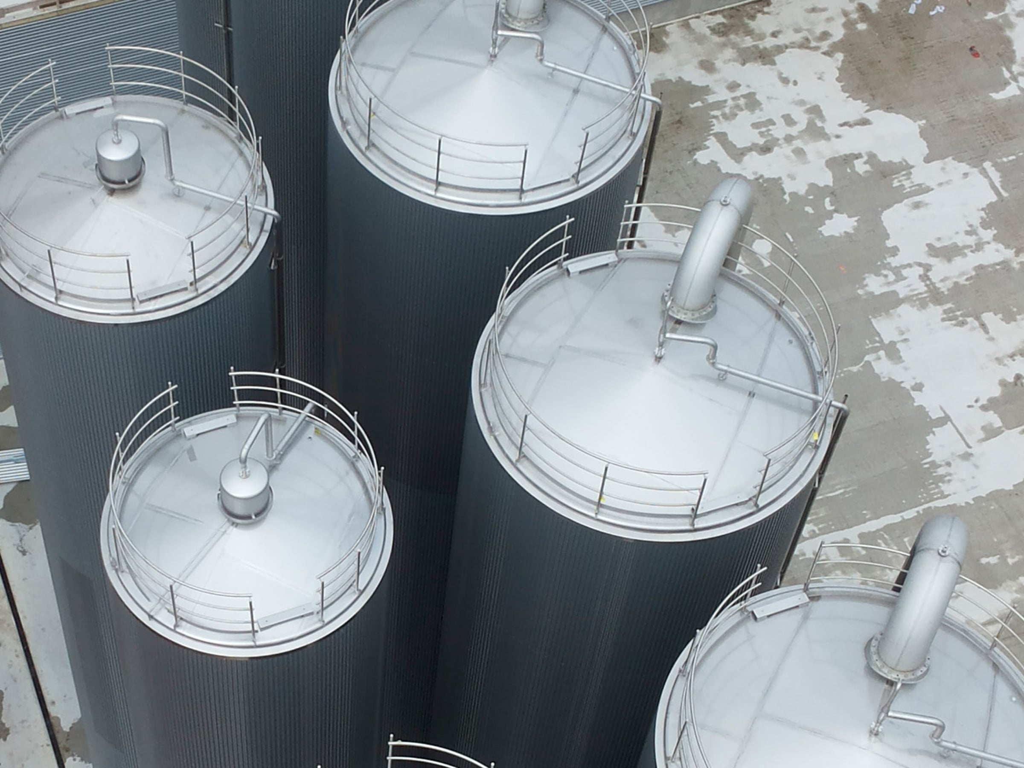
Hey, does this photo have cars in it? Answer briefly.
No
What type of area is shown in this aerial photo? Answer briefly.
industrial area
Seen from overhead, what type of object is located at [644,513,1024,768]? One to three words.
storage tank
